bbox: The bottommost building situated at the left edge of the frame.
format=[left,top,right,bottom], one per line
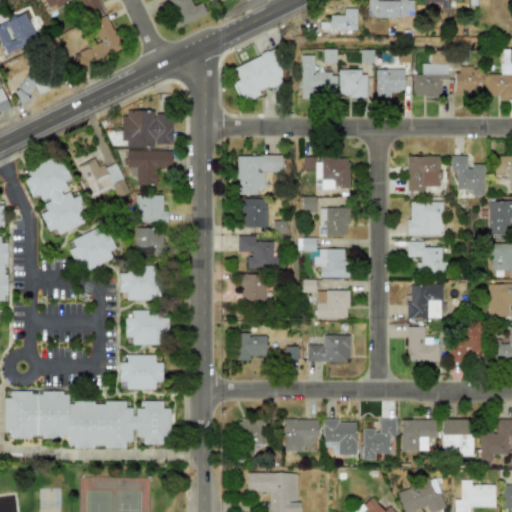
[4,392,133,448]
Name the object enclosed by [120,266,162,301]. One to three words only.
building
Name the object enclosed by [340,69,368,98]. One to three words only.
house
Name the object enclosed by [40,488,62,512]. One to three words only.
basketball court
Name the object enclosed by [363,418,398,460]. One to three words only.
house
